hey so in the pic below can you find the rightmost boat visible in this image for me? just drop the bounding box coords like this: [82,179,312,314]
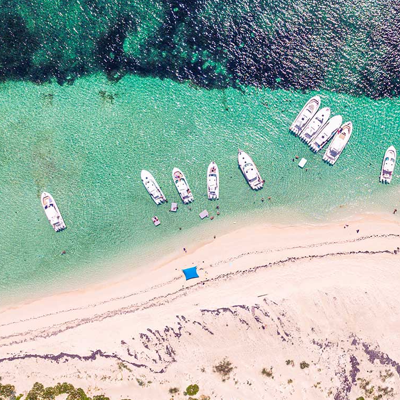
[380,146,396,184]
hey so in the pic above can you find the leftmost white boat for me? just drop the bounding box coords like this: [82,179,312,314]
[42,193,67,235]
